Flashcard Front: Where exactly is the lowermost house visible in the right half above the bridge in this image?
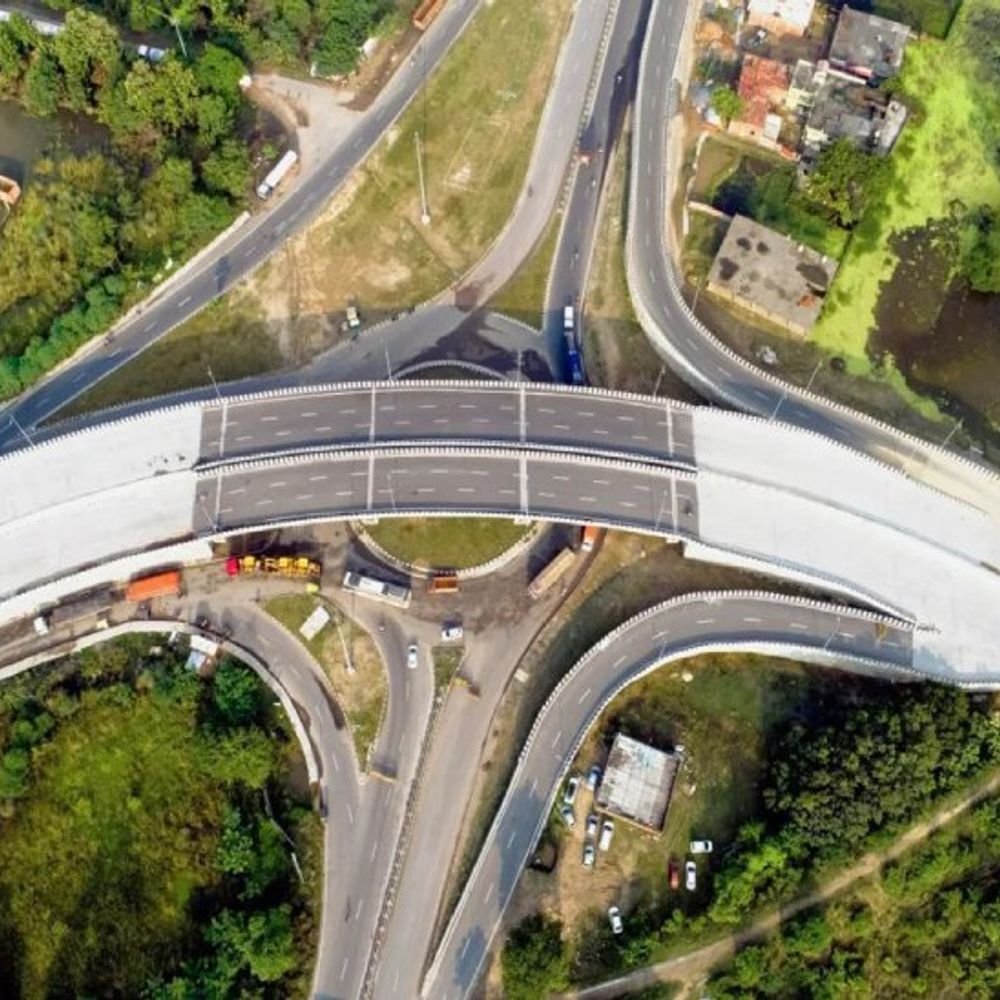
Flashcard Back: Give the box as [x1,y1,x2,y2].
[708,213,838,337]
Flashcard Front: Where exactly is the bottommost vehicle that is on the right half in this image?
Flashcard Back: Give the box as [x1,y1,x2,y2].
[606,906,622,936]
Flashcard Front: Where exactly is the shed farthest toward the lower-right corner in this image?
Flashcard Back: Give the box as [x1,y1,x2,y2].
[597,733,680,833]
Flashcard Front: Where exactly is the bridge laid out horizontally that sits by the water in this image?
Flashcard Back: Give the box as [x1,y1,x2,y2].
[0,380,1000,687]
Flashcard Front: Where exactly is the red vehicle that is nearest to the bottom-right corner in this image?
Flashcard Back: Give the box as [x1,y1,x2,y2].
[667,859,681,889]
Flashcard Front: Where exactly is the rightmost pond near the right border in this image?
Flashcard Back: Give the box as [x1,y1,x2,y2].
[865,210,1000,476]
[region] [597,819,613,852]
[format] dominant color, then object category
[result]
white car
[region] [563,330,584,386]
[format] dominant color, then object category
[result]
blue vehicle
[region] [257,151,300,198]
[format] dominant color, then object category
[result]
white truck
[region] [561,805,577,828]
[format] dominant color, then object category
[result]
white car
